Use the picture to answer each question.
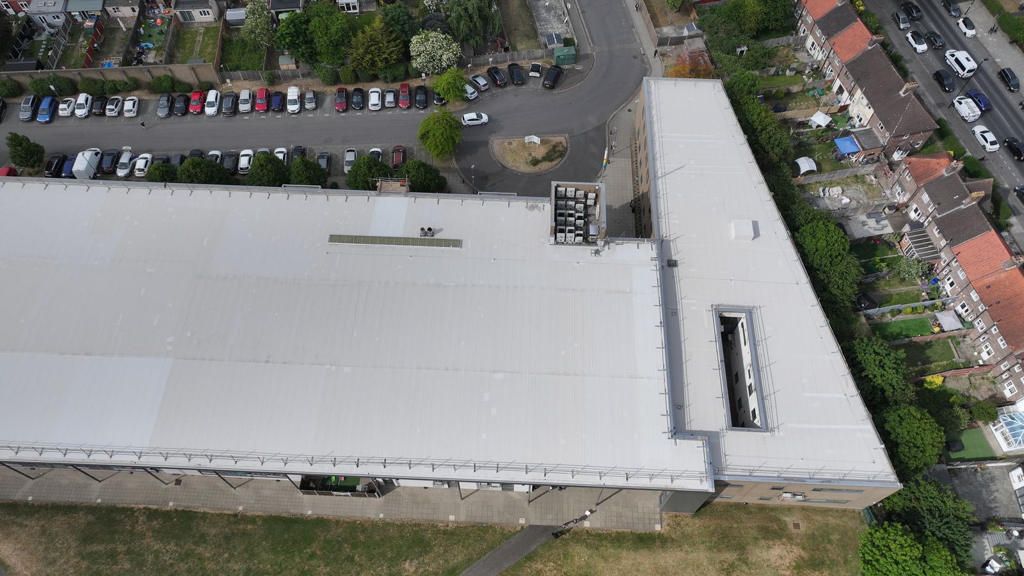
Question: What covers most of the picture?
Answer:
buildings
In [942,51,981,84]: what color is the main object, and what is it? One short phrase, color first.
white vehicle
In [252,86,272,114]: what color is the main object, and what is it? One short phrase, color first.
red car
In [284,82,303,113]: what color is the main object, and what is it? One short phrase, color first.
white vehicle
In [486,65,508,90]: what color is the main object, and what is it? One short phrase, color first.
black car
